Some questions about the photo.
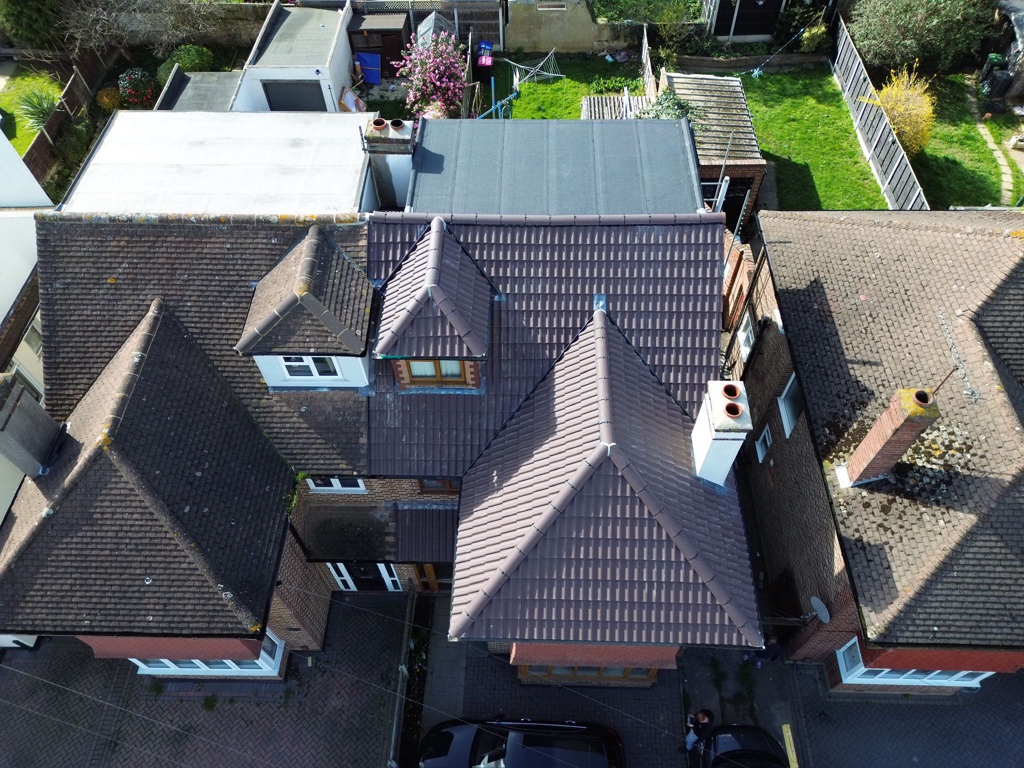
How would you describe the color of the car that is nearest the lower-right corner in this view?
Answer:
black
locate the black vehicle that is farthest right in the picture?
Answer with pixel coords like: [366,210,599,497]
[696,723,787,768]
